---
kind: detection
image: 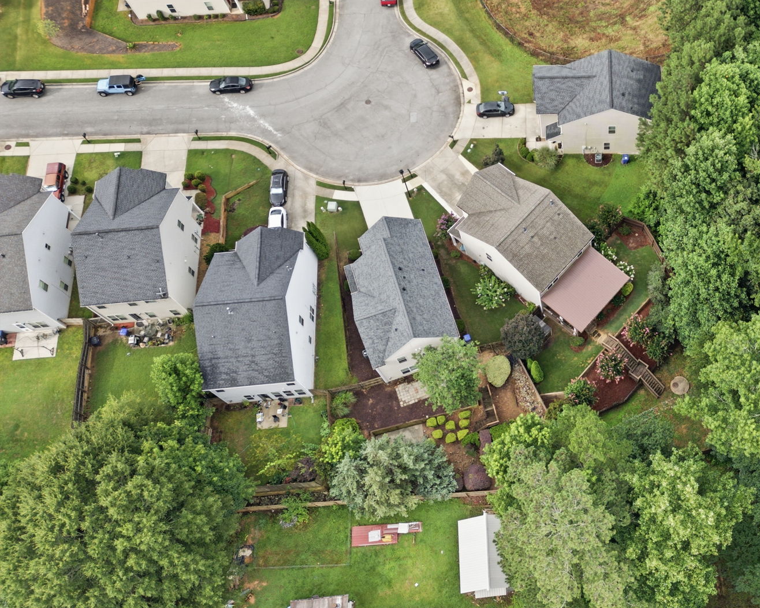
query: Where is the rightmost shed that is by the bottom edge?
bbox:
[459,510,513,599]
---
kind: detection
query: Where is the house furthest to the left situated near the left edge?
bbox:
[0,170,83,335]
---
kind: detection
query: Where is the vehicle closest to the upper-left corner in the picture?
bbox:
[0,75,43,97]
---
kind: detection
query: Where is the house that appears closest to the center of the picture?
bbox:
[343,212,459,384]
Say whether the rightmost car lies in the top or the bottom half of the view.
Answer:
top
